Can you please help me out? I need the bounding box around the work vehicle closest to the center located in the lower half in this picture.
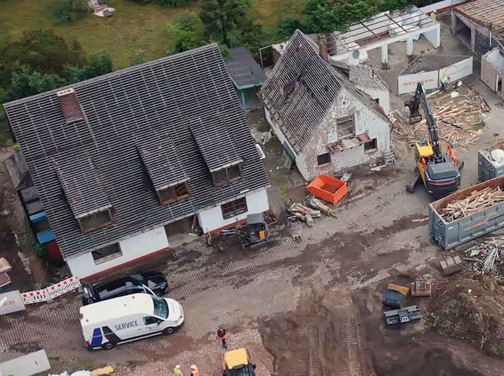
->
[213,211,272,253]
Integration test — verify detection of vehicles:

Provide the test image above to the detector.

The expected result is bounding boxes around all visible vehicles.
[88,268,165,308]
[410,81,466,203]
[86,294,187,350]
[210,348,255,376]
[213,211,272,253]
